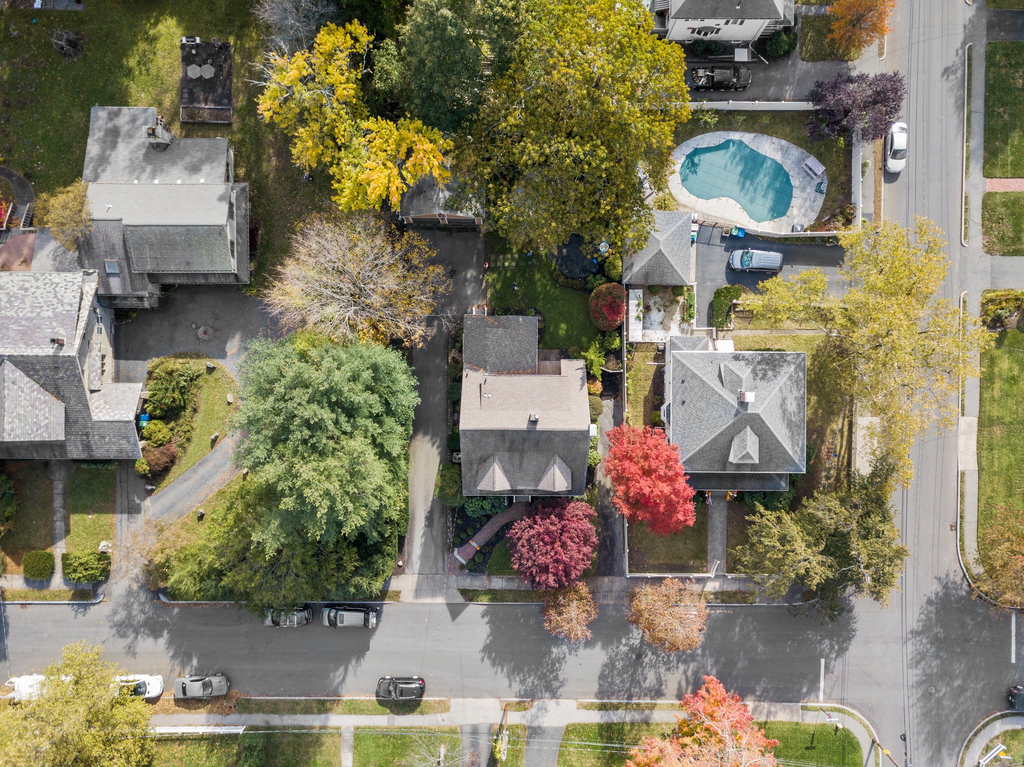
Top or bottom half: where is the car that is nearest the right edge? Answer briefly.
bottom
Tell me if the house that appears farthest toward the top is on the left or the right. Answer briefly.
right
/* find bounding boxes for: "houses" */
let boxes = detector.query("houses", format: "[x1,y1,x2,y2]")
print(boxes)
[80,106,257,309]
[0,272,151,460]
[664,0,794,64]
[646,335,808,495]
[460,306,598,504]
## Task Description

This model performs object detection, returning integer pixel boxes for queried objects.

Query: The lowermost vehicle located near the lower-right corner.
[1003,686,1024,714]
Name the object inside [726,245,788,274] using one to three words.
vehicle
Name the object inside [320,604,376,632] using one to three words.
car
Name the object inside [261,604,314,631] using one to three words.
car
